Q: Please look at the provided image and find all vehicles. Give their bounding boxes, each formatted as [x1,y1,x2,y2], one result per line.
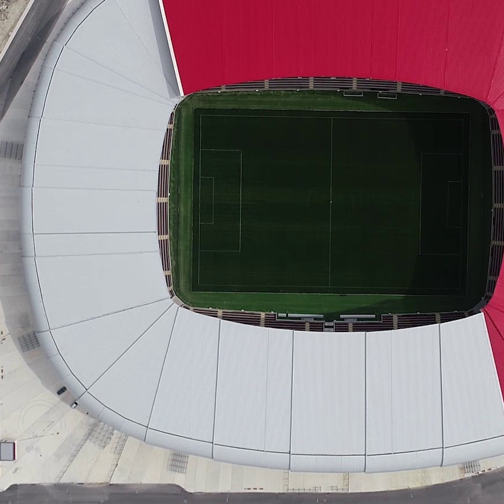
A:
[70,399,78,410]
[55,387,67,395]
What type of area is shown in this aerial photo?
sports ground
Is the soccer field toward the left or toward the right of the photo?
right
